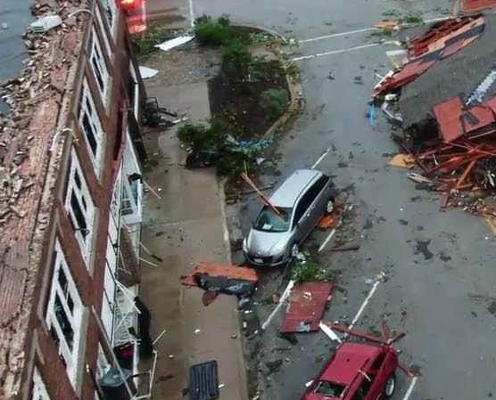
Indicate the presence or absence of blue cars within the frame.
No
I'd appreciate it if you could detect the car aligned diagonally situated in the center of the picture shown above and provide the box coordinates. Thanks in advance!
[242,172,333,267]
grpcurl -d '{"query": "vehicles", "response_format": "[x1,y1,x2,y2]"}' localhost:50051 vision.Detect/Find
[296,325,402,400]
[242,172,333,267]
